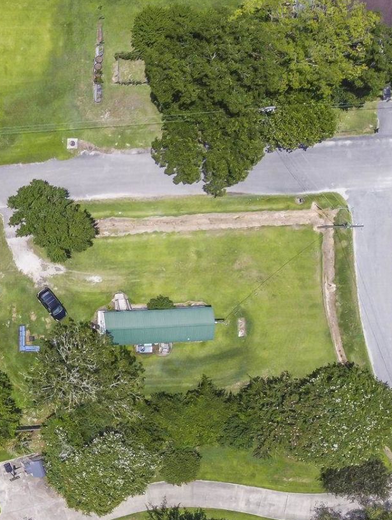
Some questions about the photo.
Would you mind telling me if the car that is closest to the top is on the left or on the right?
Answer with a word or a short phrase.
left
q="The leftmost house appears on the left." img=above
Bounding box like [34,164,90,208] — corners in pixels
[97,306,215,344]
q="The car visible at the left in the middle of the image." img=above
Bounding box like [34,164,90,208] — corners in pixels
[41,286,66,322]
